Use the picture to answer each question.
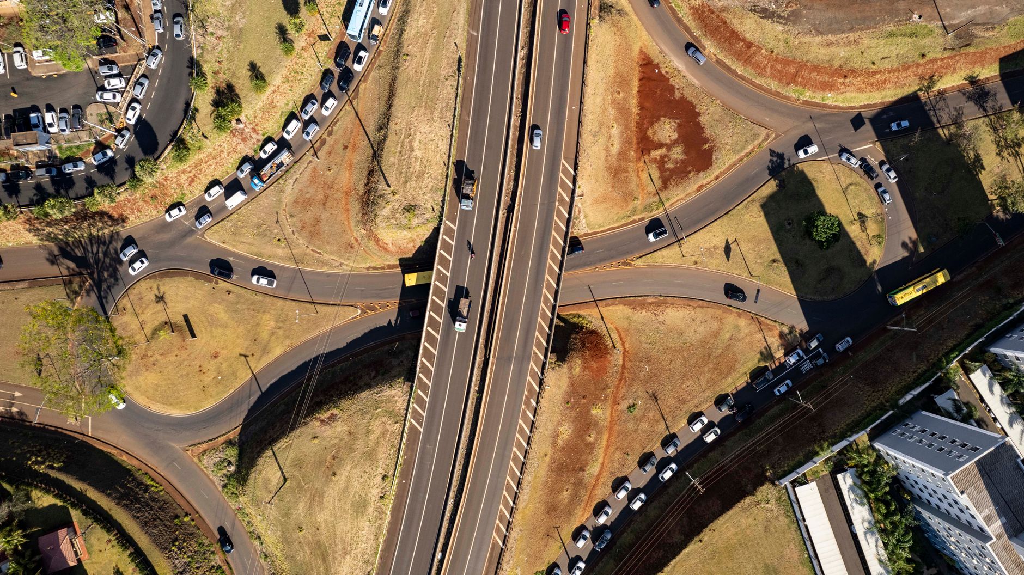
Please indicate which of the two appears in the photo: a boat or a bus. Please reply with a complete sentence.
The image shows a bus.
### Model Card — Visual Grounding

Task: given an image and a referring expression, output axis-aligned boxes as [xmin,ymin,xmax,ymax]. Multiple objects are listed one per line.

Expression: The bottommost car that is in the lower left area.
[218,533,235,554]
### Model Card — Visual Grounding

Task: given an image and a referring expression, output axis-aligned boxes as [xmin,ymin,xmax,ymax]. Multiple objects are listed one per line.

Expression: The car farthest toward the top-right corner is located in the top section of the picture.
[887,119,912,133]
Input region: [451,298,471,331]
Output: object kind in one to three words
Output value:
vehicle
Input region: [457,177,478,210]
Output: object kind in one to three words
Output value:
truck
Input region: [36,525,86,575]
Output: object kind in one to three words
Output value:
house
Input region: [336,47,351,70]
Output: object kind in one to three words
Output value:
car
